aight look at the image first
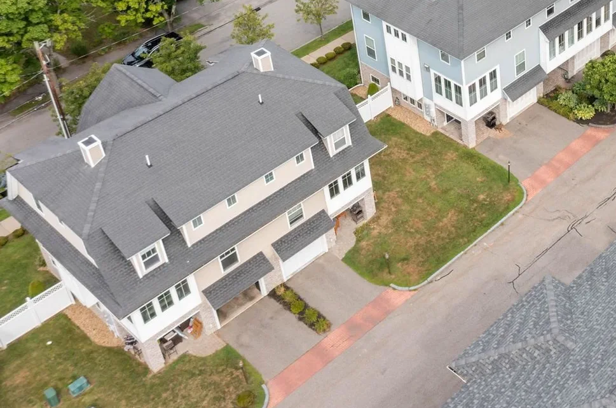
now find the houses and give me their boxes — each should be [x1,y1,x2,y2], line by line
[344,0,616,147]
[423,240,616,408]
[0,38,388,371]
